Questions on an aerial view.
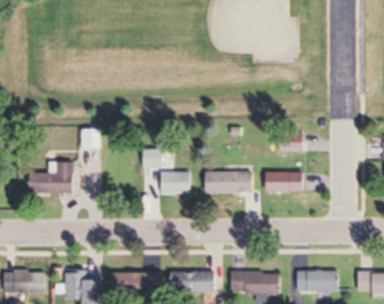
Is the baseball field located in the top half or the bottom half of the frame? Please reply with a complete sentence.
You can find the baseball field in the top half.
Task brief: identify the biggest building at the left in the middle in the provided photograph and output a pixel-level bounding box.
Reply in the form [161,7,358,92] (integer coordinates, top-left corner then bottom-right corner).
[27,161,73,197]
